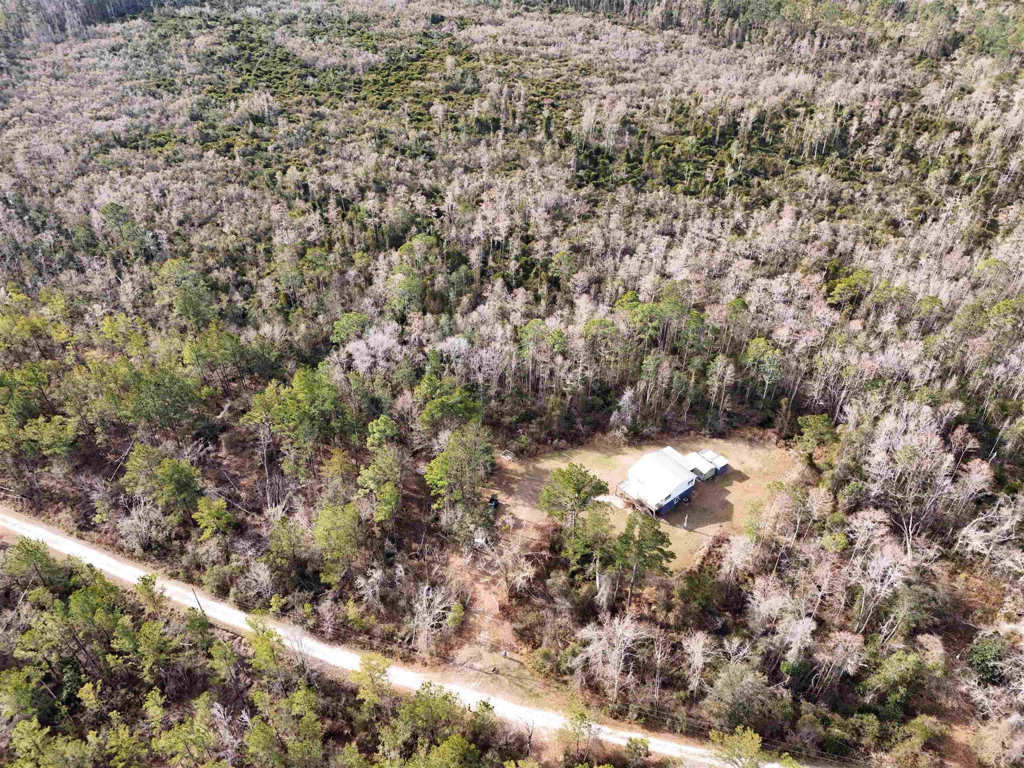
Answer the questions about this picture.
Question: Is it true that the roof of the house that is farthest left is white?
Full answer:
Yes, the roof of the house that is farthest left is white.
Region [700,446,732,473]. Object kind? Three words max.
shed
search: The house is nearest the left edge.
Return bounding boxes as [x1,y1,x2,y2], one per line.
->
[614,447,698,524]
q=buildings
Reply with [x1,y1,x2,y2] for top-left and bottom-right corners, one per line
[614,447,698,524]
[700,446,732,473]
